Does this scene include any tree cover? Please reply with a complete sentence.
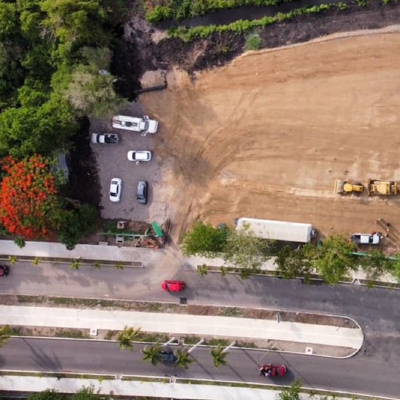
Yes, tree cover can be seen from above here.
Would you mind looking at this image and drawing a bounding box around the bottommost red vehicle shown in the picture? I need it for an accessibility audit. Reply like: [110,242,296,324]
[259,364,287,377]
